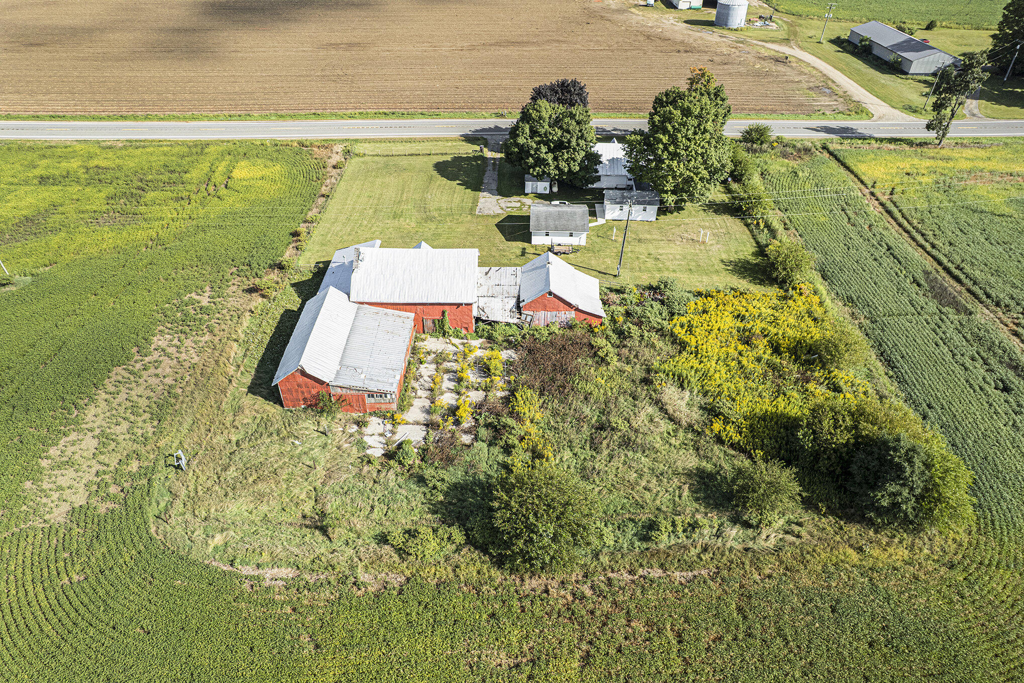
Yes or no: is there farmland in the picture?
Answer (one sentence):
Yes, there's farmland in this view.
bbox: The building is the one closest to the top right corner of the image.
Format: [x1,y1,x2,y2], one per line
[849,18,963,75]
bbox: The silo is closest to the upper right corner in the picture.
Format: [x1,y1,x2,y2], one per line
[713,0,749,28]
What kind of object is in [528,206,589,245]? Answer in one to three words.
building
